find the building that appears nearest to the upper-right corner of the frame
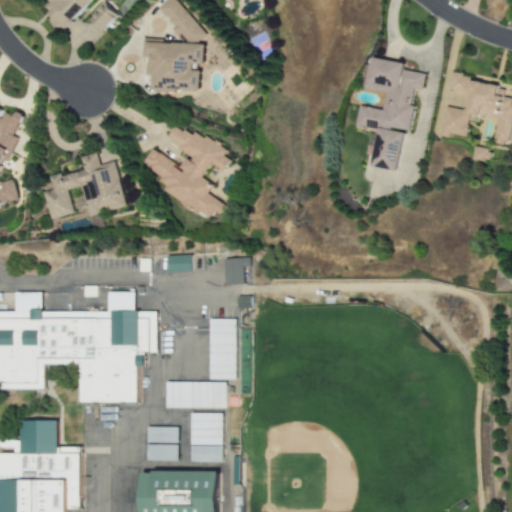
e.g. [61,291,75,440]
[440,72,512,144]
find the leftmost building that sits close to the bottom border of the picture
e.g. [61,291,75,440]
[0,420,85,512]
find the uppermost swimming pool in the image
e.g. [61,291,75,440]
[242,0,264,17]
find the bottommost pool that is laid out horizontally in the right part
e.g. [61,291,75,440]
[351,90,385,108]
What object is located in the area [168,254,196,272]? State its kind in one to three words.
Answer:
shed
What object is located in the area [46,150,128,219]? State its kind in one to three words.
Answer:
house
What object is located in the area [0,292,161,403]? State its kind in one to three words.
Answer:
building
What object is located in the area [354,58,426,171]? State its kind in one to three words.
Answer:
house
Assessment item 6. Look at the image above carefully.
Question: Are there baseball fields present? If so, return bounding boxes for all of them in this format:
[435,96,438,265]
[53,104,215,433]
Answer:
[243,300,480,512]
